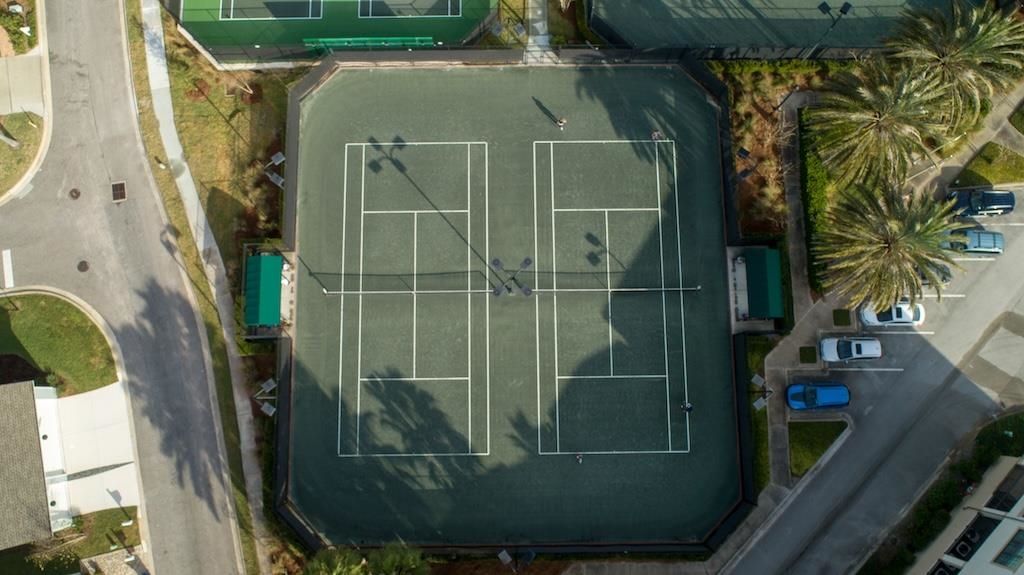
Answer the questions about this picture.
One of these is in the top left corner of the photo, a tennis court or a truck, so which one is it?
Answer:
tennis court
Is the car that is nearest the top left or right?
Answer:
right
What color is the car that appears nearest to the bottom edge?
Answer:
blue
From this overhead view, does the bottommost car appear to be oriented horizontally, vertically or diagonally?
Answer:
horizontally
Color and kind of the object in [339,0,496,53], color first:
green tennis court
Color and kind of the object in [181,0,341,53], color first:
green tennis court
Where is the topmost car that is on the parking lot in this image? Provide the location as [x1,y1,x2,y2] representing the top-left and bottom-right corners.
[946,188,1018,218]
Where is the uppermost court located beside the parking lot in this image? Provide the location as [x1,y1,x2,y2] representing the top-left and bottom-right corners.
[591,0,1000,48]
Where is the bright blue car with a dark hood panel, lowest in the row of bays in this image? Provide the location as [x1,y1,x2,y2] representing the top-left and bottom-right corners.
[786,381,853,411]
